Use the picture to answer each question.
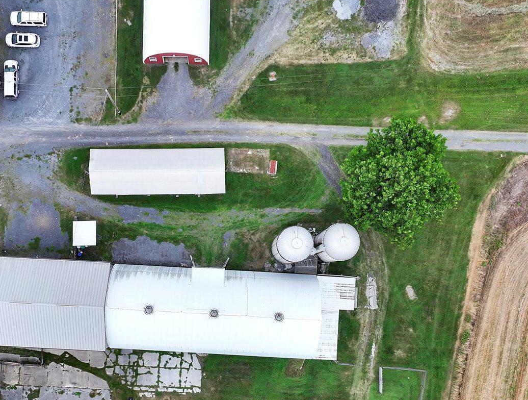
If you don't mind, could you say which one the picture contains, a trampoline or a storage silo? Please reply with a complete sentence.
There is a storage silo in the scene.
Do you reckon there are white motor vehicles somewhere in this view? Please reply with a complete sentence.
Yes, there's a white motor vehicle down there.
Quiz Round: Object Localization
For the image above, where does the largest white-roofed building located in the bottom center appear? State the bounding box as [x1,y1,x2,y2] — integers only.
[103,264,323,358]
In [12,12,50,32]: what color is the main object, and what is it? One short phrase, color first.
white car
